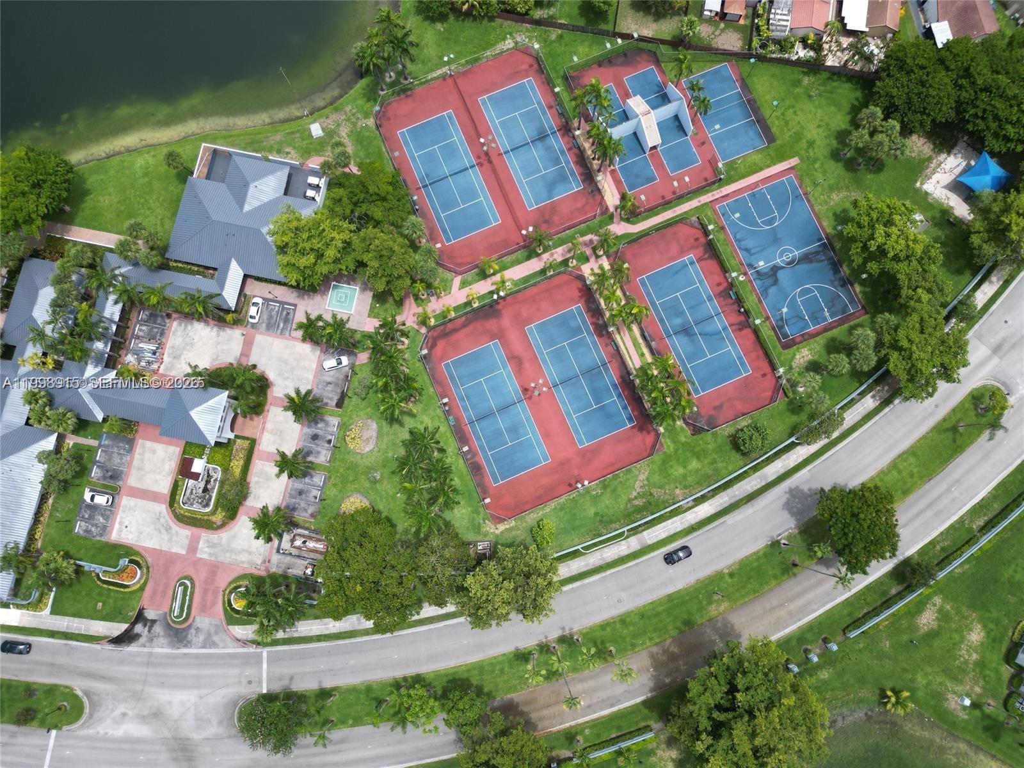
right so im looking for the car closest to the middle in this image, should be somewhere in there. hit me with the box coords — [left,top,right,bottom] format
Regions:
[322,356,349,371]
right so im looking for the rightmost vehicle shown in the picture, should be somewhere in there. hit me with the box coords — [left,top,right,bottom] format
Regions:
[663,545,692,564]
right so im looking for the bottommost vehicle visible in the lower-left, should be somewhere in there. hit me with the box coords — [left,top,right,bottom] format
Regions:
[2,639,30,654]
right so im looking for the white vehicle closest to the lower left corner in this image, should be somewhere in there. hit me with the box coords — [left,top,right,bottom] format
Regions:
[86,491,112,505]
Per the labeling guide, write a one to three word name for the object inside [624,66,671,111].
sports court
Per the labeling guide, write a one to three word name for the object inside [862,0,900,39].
house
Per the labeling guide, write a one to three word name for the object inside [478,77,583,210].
tennis court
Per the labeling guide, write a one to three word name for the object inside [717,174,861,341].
basketball court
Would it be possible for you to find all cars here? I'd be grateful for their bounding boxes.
[663,545,692,564]
[86,491,112,505]
[322,356,349,371]
[2,639,30,654]
[249,299,264,324]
